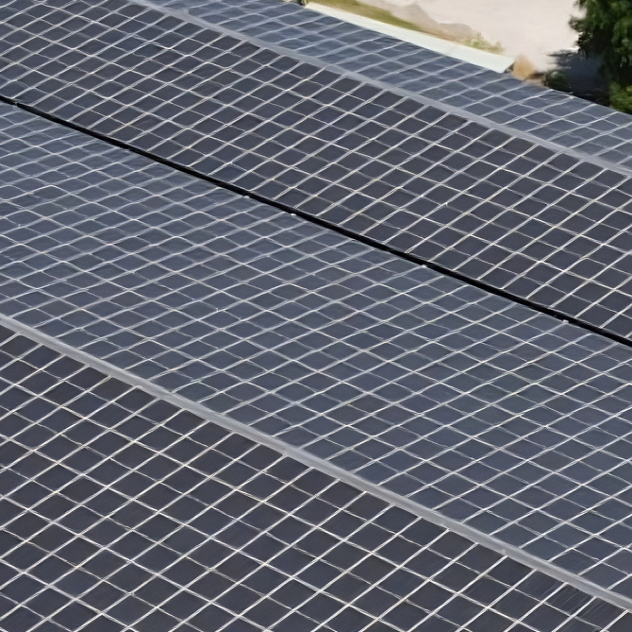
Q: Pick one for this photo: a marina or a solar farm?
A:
solar farm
